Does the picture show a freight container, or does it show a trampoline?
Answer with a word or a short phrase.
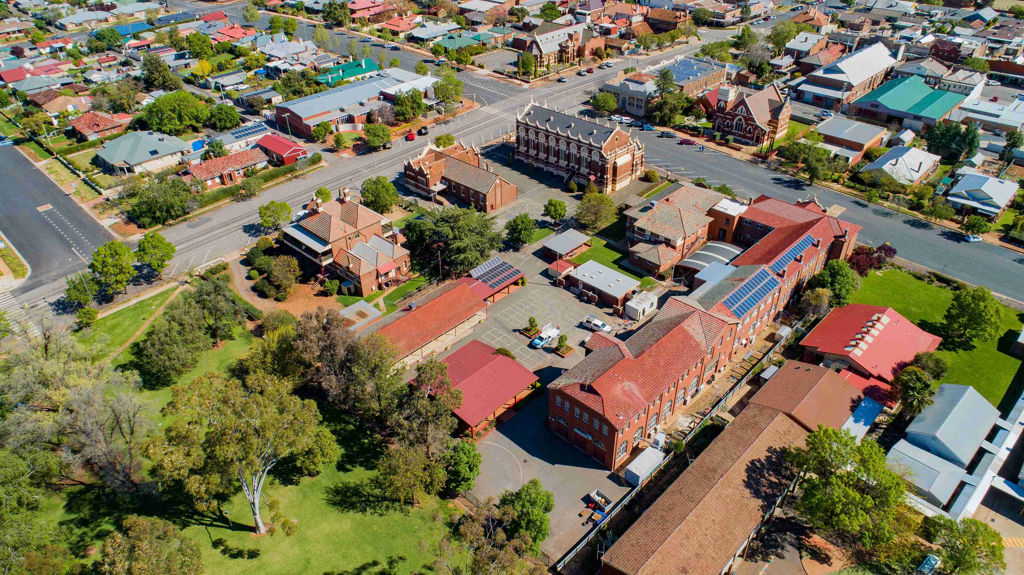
freight container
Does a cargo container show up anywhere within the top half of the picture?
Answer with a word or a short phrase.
No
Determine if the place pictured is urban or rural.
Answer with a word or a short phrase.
urban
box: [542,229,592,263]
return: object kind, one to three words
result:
building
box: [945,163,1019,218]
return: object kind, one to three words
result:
house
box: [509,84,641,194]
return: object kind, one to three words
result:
building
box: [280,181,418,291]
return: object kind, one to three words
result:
house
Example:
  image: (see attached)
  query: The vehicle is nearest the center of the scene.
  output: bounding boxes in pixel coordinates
[534,326,558,346]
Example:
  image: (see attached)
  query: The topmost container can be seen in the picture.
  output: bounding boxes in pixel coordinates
[626,447,663,486]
